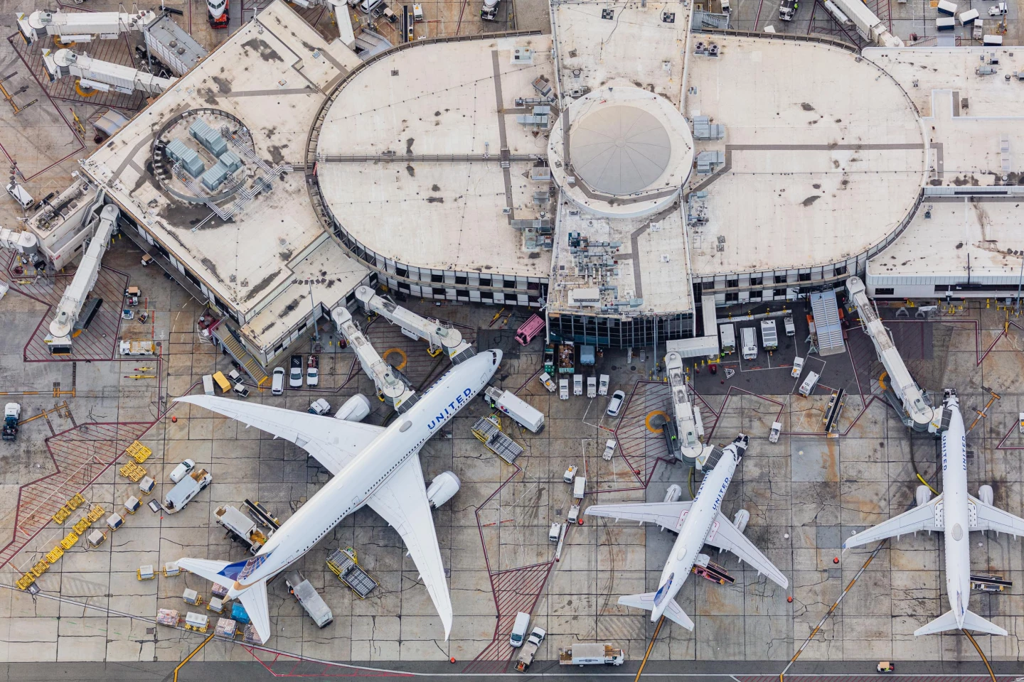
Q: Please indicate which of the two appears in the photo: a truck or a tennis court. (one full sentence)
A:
Visible in the photo is a truck.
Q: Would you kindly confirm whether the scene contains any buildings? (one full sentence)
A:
Yes, you can see a building in this photo.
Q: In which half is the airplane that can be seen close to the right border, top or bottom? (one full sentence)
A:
The airplane that can be seen close to the right border is in the bottom half of the image.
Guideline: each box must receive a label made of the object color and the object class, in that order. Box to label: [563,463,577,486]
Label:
white work vehicle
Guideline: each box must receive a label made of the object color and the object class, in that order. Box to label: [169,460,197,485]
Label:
white vehicle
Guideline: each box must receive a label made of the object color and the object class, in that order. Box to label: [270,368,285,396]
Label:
white car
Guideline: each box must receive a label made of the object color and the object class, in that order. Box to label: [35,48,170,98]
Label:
white jet bridge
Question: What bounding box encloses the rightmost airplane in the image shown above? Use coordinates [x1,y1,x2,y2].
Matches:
[846,390,1024,633]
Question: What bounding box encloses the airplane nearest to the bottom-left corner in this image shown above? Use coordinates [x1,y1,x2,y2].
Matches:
[172,346,503,645]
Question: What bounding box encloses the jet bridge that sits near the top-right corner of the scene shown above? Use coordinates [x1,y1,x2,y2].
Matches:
[814,0,908,45]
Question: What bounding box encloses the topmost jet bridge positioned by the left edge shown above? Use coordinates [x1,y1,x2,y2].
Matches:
[9,9,160,53]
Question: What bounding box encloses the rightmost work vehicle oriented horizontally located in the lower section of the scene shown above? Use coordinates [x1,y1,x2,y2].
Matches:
[972,577,1013,591]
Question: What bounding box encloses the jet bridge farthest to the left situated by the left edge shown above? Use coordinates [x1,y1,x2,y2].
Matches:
[0,228,39,264]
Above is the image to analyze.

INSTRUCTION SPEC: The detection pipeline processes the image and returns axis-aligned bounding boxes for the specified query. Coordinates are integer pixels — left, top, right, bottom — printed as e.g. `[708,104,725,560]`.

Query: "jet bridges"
[814,0,908,45]
[0,228,39,264]
[656,350,724,475]
[9,9,160,53]
[843,278,951,435]
[287,0,348,14]
[39,205,121,361]
[355,286,480,362]
[35,48,170,98]
[332,308,420,414]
